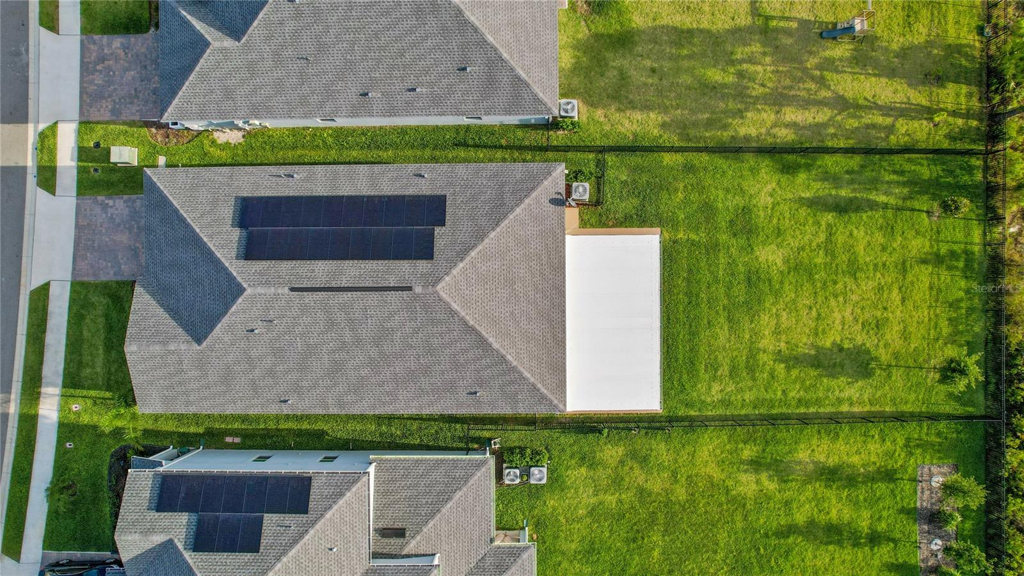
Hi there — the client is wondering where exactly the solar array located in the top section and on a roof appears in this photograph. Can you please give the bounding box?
[235,195,446,260]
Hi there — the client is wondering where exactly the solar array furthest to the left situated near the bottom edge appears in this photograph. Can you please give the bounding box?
[153,475,312,551]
